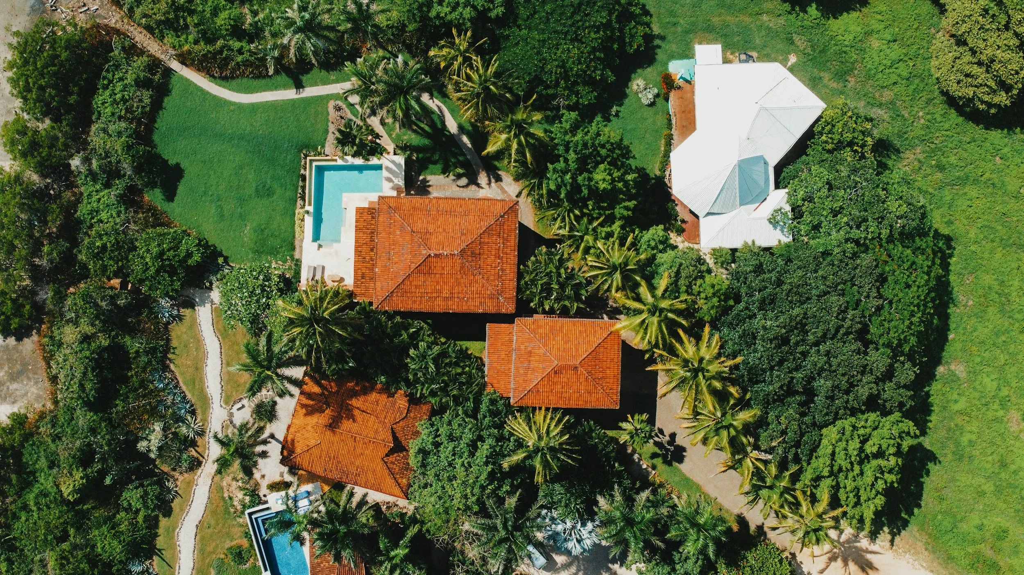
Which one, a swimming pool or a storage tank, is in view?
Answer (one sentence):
It is a swimming pool that can be seen here.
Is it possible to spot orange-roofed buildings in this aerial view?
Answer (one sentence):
Yes, looking at the shot, I can spot an orange-roofed building.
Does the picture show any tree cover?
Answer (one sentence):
Yes, the picture does contain tree cover.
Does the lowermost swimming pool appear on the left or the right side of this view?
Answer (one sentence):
The lowermost swimming pool is on the left side of the image.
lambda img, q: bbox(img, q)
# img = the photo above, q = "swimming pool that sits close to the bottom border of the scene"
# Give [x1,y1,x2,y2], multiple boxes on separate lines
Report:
[245,481,324,575]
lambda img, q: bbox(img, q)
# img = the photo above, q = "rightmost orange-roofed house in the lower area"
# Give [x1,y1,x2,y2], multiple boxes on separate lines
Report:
[485,314,622,410]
